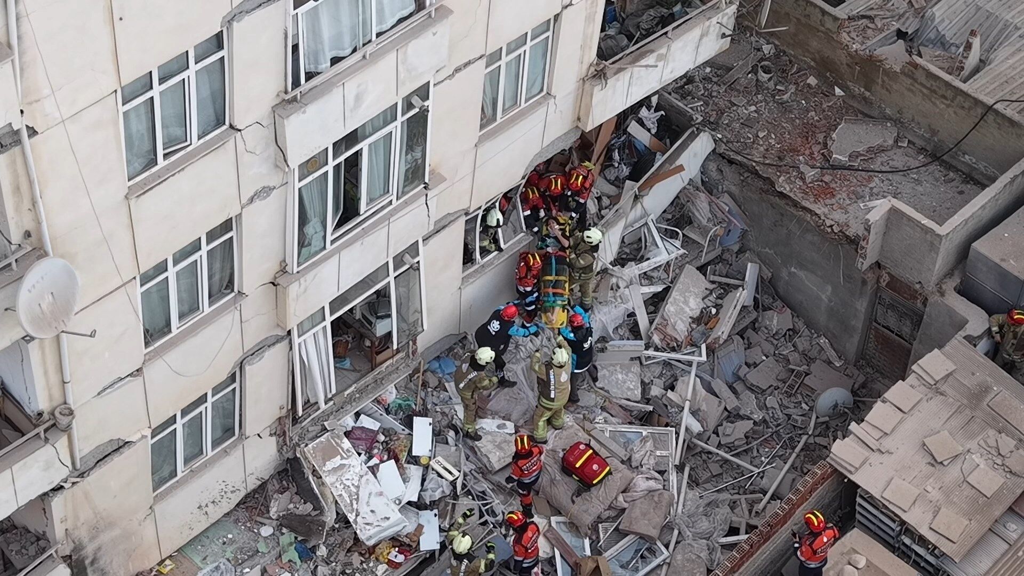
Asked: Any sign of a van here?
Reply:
No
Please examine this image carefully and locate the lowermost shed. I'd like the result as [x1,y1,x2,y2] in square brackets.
[828,315,1024,576]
